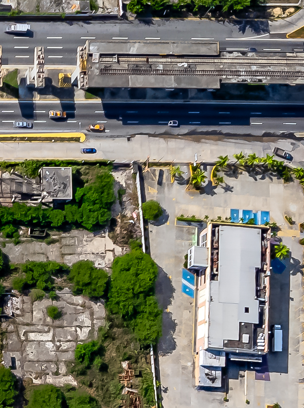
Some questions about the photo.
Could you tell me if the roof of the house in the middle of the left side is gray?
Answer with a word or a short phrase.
Yes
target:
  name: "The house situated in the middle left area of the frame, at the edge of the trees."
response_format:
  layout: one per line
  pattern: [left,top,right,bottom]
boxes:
[39,166,73,202]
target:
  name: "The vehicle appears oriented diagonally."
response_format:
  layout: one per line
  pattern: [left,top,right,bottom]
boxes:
[274,145,293,162]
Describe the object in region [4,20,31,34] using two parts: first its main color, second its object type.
white vehicle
